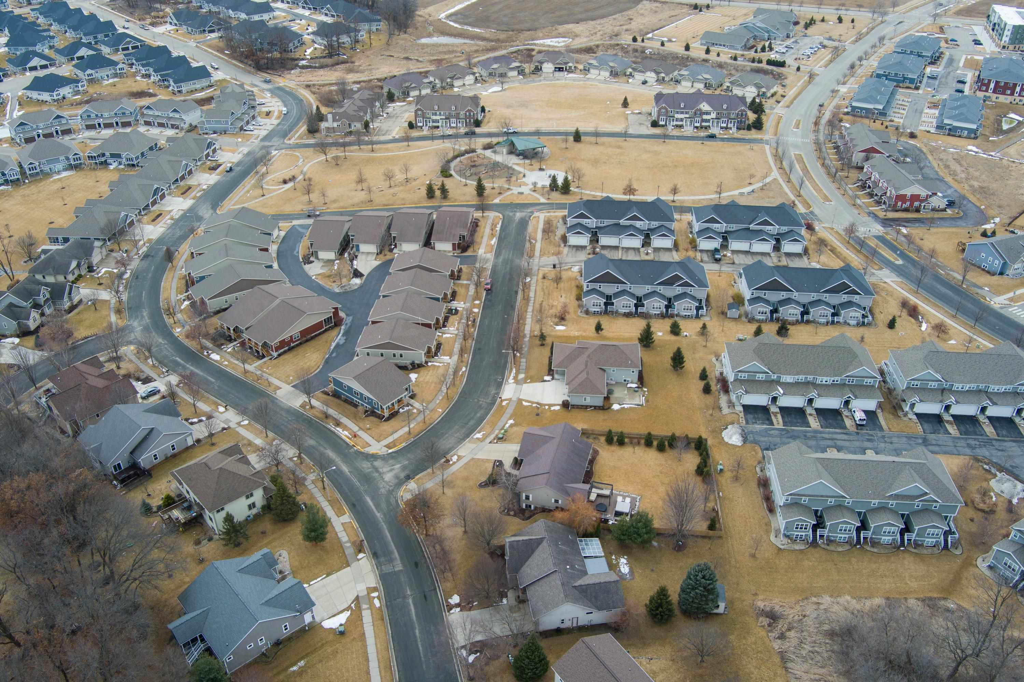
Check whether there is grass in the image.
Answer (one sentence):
Yes, the picture does contain grass.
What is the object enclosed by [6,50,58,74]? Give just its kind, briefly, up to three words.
house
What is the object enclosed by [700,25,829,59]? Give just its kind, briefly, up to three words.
building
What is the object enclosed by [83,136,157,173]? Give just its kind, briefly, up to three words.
house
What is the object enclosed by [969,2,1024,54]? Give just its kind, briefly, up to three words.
building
